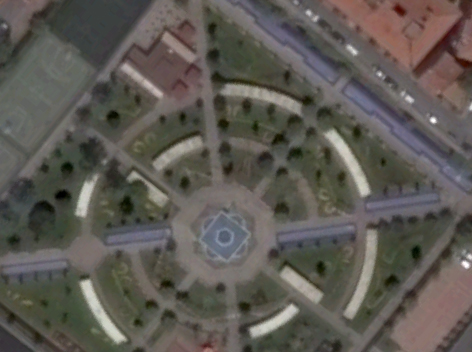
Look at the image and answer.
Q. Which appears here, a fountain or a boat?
fountain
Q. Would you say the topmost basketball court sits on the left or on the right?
left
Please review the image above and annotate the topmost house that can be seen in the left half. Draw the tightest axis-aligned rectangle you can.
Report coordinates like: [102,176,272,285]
[121,21,201,100]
